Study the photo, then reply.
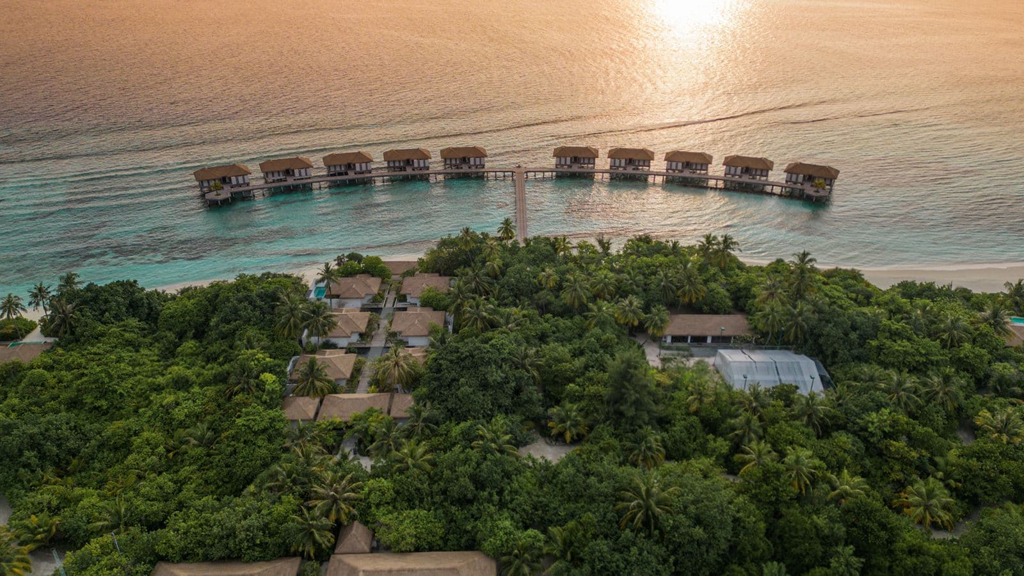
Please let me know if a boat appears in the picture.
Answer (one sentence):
No, no boat can be seen from above.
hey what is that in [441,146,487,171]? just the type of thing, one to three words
house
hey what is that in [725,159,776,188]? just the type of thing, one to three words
house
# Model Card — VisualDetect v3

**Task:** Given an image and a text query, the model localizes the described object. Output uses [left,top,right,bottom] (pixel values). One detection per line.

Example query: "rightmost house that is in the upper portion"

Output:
[788,167,840,196]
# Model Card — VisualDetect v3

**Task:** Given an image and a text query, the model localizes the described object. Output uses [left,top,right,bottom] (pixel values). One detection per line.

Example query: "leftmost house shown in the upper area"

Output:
[197,165,250,195]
